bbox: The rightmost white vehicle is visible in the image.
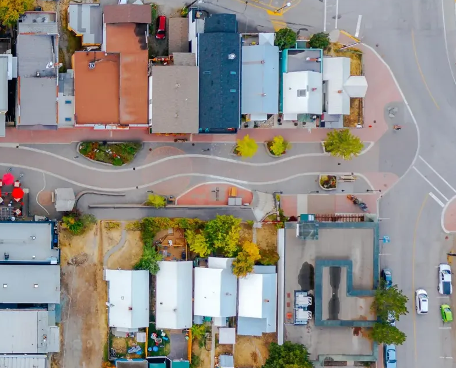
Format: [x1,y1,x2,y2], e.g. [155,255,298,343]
[436,264,453,295]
